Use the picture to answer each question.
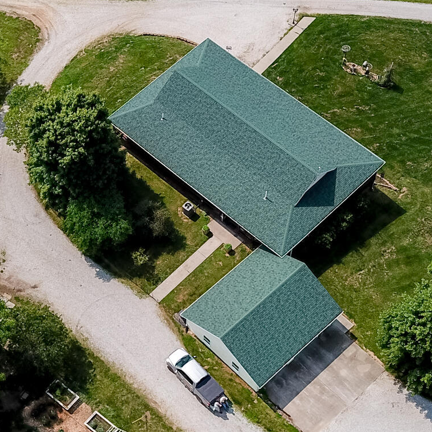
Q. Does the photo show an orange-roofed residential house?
No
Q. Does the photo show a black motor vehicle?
No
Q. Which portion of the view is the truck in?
bottom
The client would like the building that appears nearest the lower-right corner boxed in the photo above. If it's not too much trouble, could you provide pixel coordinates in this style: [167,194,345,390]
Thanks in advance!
[178,243,344,399]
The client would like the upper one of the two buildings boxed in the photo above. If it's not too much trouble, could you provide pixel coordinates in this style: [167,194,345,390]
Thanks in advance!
[112,39,385,255]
